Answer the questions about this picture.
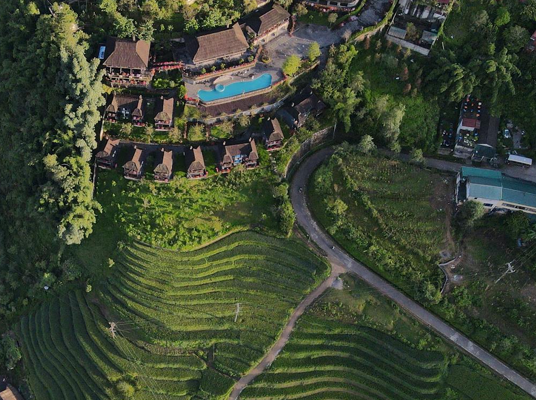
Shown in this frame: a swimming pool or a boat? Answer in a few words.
swimming pool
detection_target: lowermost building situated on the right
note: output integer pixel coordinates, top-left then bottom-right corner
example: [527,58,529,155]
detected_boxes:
[463,167,536,217]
